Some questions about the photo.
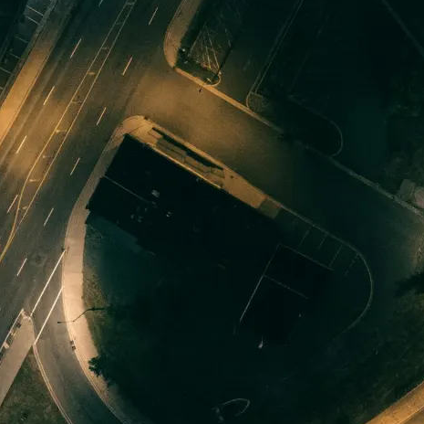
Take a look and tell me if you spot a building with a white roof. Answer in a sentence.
No, the scene contains no building with a white roof.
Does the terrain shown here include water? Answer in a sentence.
No, the scene doesn't show any water.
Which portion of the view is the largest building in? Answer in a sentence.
The largest building sits in the center section of the image.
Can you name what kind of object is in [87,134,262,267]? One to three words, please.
building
